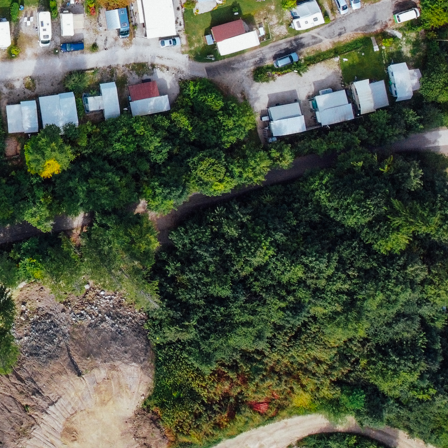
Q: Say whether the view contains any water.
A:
No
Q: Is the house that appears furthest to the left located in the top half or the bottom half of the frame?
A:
top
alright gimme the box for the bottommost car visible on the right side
[274,52,299,67]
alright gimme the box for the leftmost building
[5,101,37,133]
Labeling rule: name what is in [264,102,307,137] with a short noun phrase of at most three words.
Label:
house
